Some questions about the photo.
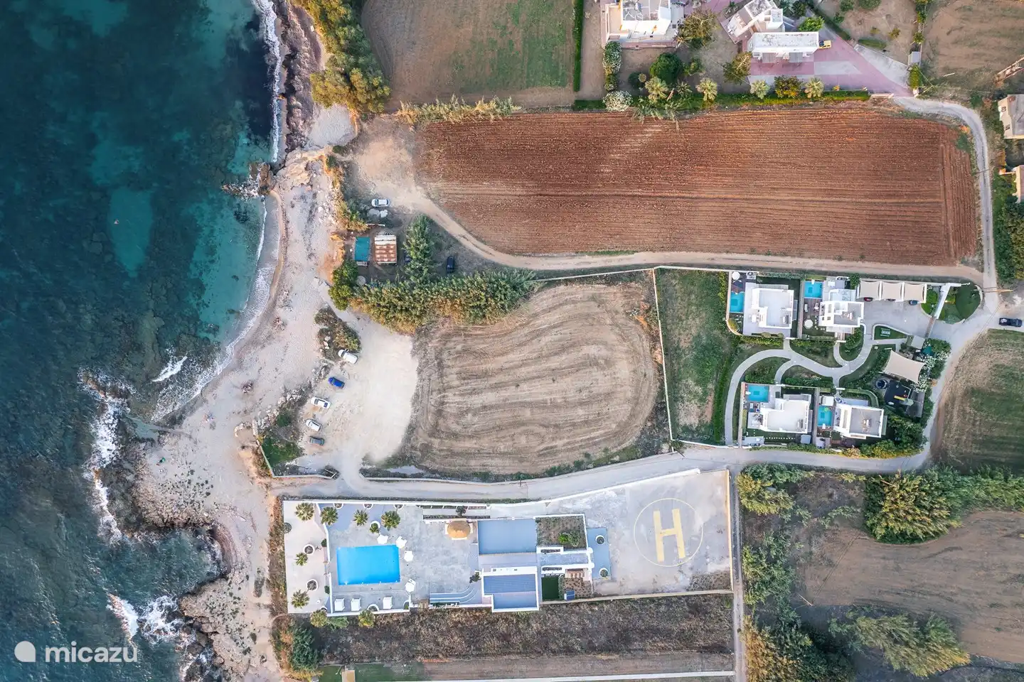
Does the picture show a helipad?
Yes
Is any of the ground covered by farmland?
Yes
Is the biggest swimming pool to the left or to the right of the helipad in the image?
left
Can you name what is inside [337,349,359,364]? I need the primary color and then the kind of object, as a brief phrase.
white vehicle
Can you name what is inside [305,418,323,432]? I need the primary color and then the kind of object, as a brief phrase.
white car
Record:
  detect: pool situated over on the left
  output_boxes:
[335,543,402,588]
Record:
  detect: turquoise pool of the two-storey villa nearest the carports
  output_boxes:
[804,280,824,299]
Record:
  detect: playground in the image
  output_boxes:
[872,376,925,418]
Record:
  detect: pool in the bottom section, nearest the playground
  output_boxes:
[817,404,833,428]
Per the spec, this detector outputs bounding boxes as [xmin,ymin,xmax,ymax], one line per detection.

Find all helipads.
[588,471,729,597]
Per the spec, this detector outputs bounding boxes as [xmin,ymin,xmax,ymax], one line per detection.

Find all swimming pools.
[804,280,824,299]
[335,543,402,588]
[729,290,746,314]
[746,384,770,404]
[817,404,833,428]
